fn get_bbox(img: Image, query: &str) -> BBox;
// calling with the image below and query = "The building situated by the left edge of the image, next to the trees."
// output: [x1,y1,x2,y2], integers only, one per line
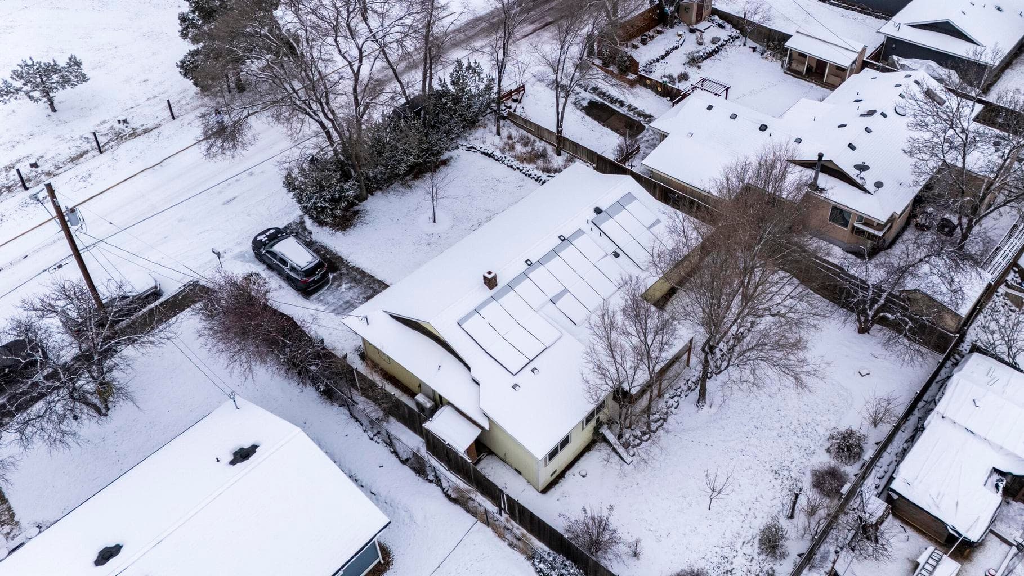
[0,391,387,576]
